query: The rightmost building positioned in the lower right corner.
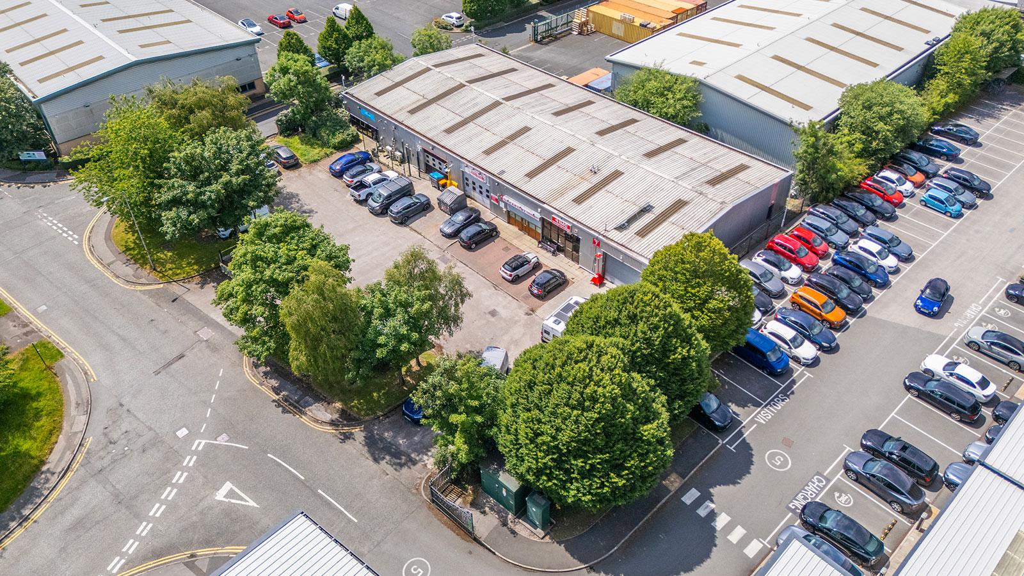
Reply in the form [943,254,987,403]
[898,400,1024,576]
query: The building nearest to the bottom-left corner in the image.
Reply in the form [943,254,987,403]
[199,507,359,576]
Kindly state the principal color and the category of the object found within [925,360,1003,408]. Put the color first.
white car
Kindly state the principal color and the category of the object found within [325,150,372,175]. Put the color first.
blue car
